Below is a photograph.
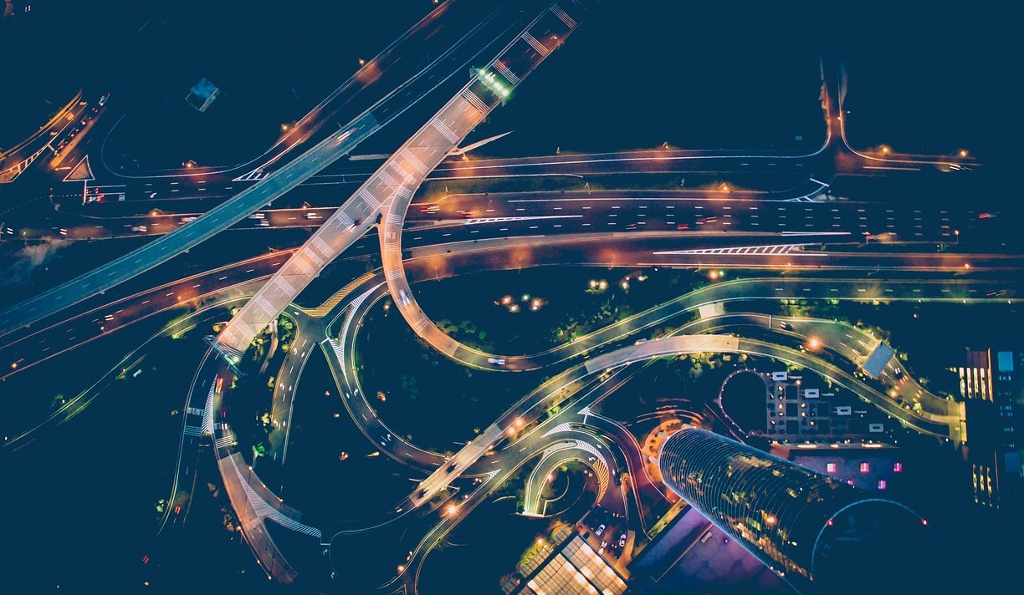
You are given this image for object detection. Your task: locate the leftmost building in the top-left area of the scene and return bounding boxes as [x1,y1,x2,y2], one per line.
[185,78,227,117]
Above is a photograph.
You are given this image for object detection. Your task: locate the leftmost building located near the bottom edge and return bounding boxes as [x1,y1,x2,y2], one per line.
[484,528,632,595]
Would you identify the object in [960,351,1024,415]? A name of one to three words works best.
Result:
building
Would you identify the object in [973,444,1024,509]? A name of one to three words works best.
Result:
building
